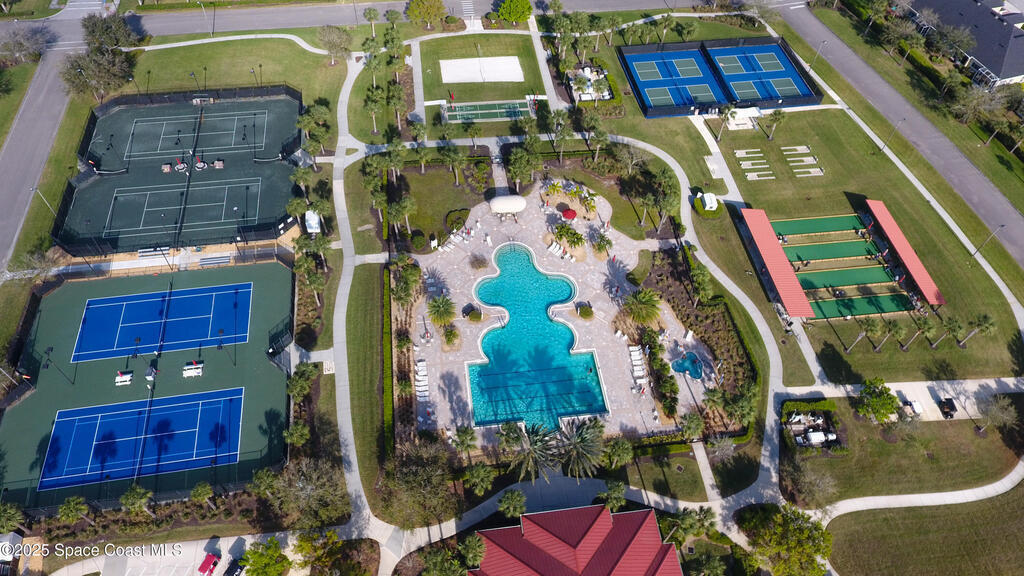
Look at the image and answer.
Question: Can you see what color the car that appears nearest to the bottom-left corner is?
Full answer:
From above, the car that appears nearest to the bottom-left corner appears red.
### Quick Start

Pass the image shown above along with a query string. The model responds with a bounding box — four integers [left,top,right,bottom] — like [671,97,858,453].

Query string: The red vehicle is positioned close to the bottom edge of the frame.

[191,552,224,576]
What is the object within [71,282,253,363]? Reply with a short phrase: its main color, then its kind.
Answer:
blue tennis court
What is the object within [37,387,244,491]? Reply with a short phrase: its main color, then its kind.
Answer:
blue tennis court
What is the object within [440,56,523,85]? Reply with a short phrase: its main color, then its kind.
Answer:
white sports court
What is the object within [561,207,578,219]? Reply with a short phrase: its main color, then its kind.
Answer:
red umbrella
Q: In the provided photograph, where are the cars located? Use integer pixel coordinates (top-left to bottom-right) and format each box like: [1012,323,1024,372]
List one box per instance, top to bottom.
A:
[218,551,251,576]
[191,552,224,576]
